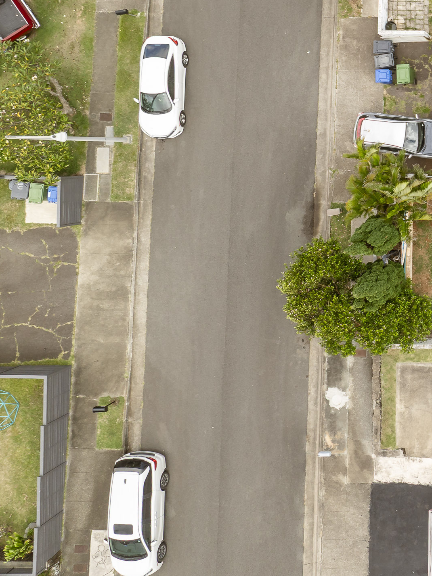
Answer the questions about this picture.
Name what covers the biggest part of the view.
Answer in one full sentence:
The largest share of the image is taken up by paved ground.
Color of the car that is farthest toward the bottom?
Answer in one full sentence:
The car that is farthest toward the bottom looks white in the image.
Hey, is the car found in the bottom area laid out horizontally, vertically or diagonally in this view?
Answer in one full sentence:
The car found in the bottom area has been laid out vertically relative to the frame.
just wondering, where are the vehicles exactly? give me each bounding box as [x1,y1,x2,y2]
[127,37,185,138]
[97,451,161,572]
[352,115,432,164]
[0,0,44,50]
